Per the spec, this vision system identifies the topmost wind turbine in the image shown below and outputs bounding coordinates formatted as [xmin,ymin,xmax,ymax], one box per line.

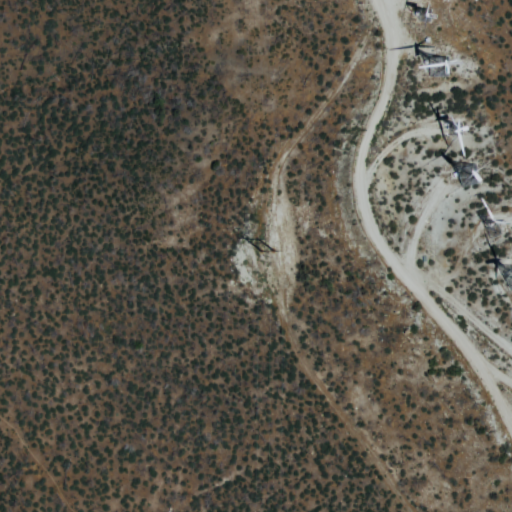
[414,0,437,24]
